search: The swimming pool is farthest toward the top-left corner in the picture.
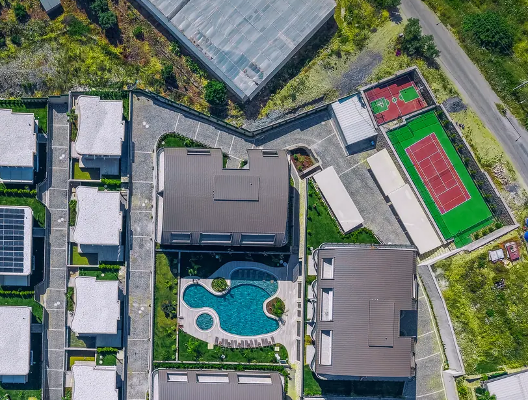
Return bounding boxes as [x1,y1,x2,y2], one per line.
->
[70,157,101,181]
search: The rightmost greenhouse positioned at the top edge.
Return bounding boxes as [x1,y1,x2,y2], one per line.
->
[143,0,340,103]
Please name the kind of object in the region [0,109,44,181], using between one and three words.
house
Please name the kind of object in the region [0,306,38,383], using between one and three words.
house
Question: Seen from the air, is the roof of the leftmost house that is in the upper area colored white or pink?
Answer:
white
